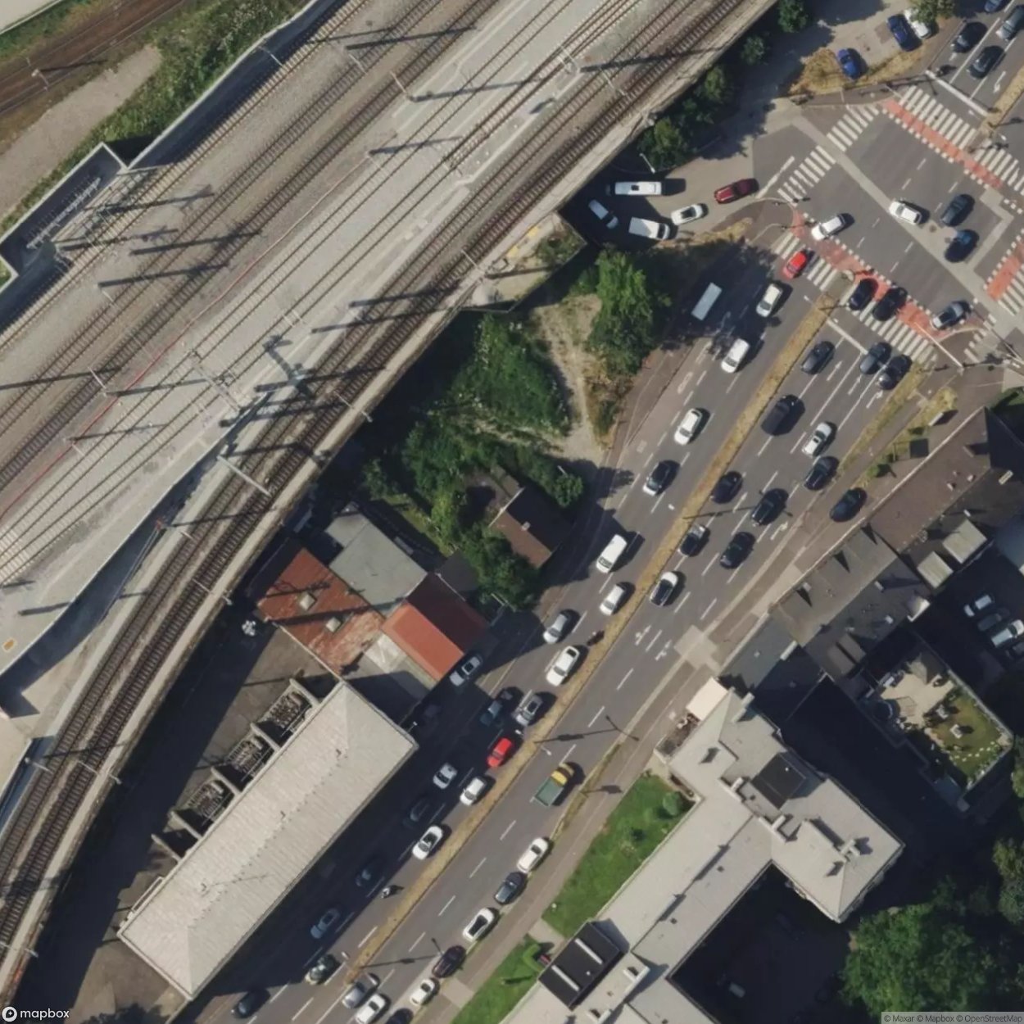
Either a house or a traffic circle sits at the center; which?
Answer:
house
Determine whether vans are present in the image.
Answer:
Yes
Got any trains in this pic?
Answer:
No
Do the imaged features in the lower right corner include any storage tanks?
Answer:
No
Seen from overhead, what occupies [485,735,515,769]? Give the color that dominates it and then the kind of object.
red car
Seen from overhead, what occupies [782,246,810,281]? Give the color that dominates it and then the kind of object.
red car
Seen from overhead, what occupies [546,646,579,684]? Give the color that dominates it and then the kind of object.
white car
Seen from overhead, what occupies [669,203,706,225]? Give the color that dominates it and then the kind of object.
white car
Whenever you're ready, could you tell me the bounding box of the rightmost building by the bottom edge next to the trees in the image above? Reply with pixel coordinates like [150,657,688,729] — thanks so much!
[498,689,905,1024]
